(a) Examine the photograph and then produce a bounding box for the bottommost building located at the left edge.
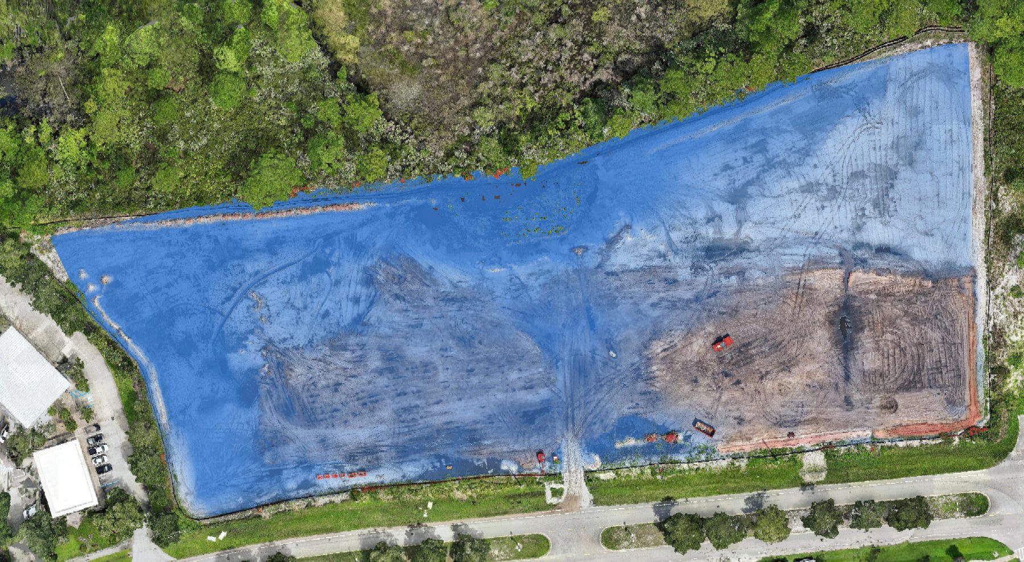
[33,439,99,518]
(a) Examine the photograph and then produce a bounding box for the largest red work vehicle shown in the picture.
[711,336,734,352]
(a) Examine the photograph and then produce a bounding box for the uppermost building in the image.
[0,325,70,428]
